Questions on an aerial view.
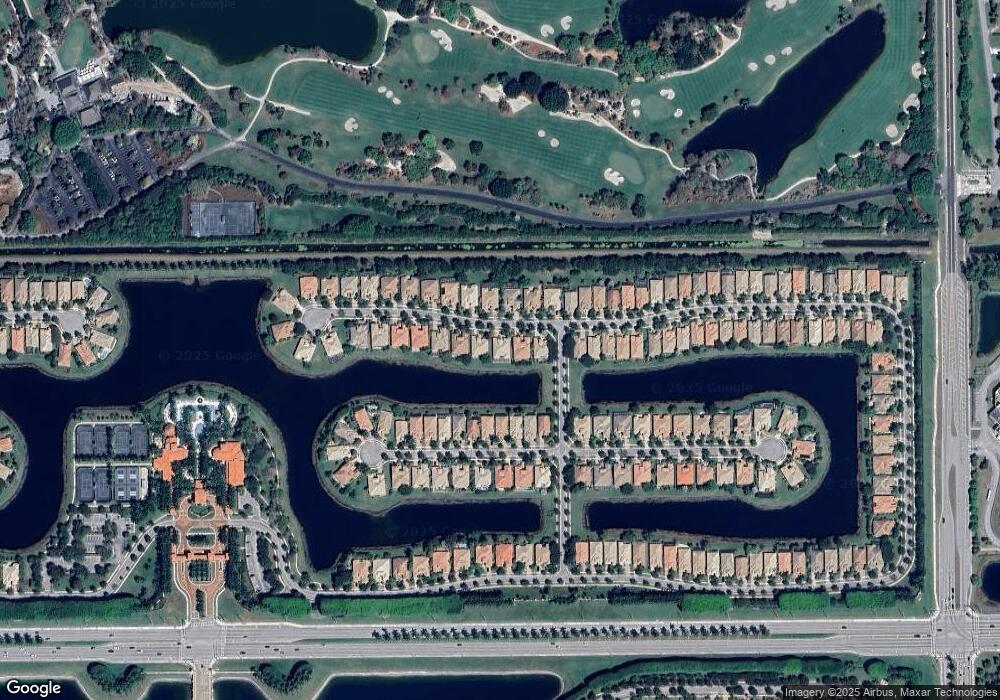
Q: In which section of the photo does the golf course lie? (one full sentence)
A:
You can find the golf course in the top area of the picture.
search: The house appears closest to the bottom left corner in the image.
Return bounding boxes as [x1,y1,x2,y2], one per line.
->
[2,563,19,586]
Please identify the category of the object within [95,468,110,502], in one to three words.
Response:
tennis court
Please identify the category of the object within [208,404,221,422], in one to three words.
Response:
swimming pool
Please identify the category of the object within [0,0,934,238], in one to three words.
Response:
golf course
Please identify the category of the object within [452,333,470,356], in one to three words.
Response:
house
